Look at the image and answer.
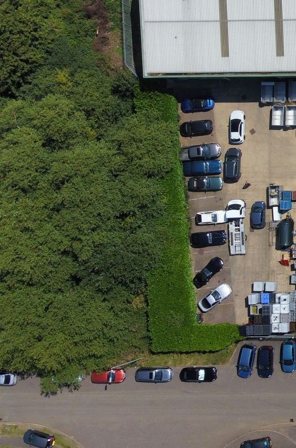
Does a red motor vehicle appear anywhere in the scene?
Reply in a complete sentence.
Yes, the image includes a red motor vehicle.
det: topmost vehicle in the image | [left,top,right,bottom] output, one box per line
[181,96,215,113]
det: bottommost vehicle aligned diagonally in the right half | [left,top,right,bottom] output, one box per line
[199,282,233,313]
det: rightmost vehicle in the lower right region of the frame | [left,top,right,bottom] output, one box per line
[279,338,296,374]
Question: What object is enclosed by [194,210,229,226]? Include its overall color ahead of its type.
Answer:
white car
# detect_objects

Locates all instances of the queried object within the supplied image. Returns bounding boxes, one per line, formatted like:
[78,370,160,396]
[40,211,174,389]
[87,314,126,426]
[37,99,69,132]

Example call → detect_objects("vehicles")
[256,345,275,378]
[199,282,233,313]
[195,255,226,289]
[182,143,223,160]
[187,176,224,192]
[181,120,214,136]
[224,147,243,183]
[194,210,229,226]
[224,199,246,254]
[134,366,175,384]
[181,96,215,113]
[179,366,219,383]
[249,200,266,230]
[240,433,274,448]
[192,231,227,248]
[228,111,246,145]
[184,160,223,176]
[235,342,258,379]
[92,367,128,385]
[0,371,21,388]
[49,372,82,391]
[23,427,57,448]
[279,338,296,374]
